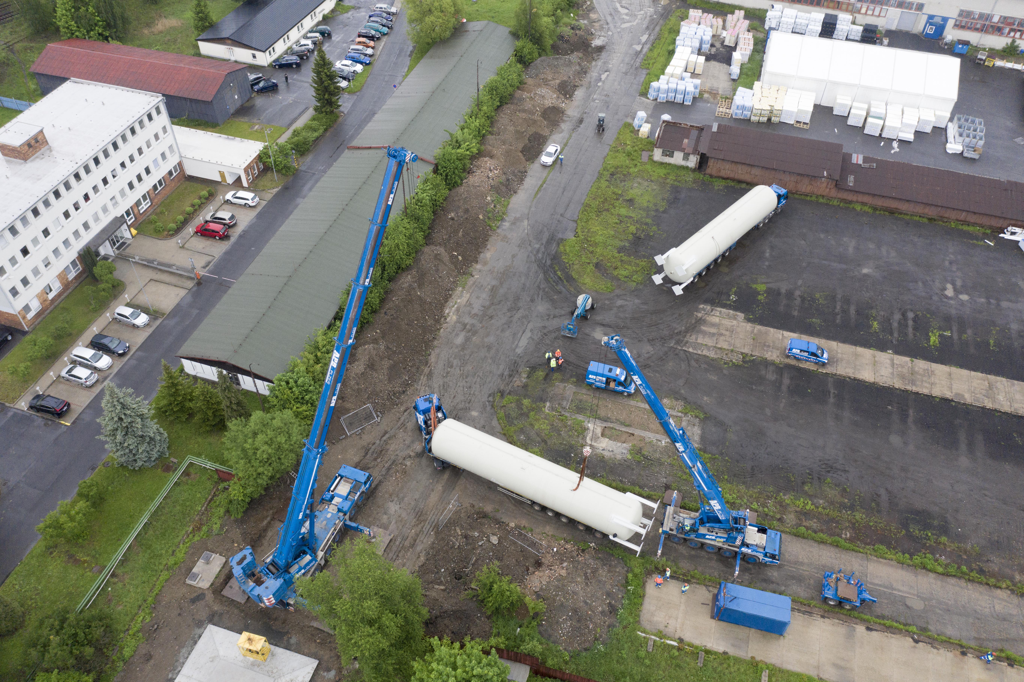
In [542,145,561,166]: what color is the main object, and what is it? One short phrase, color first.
white car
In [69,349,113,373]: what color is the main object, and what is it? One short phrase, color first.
white car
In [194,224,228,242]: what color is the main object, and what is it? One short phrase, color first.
red car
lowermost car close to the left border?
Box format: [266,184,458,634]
[26,394,73,419]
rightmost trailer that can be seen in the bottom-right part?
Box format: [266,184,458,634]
[822,571,879,609]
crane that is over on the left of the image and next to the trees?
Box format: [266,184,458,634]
[234,146,450,618]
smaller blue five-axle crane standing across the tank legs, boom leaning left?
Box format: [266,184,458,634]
[583,331,783,584]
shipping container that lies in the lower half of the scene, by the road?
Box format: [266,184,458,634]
[714,580,793,637]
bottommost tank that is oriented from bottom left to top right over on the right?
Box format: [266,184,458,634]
[652,185,775,300]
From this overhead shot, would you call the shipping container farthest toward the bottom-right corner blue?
Yes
